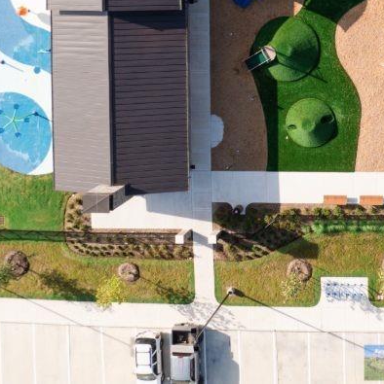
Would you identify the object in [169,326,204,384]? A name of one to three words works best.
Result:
truck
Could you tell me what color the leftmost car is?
white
